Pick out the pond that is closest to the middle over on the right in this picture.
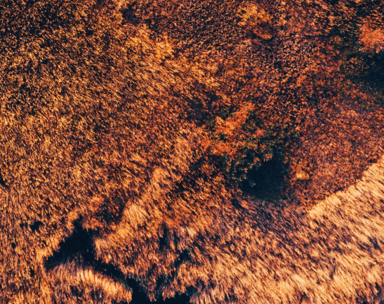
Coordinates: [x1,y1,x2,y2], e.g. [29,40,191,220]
[238,144,290,201]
